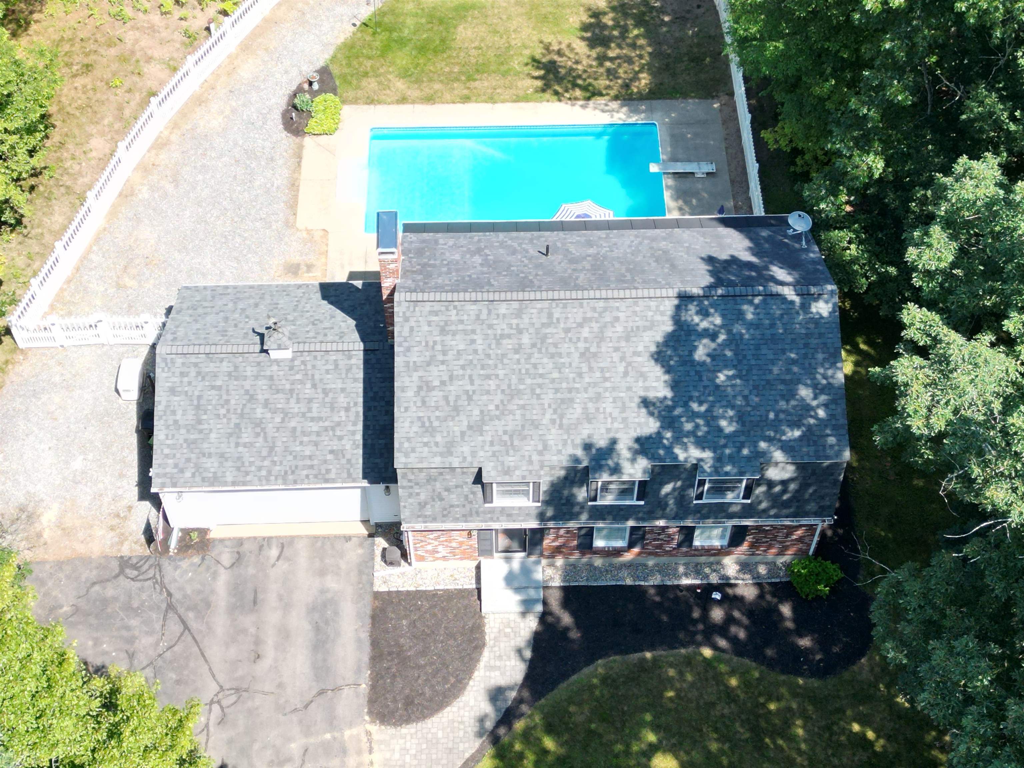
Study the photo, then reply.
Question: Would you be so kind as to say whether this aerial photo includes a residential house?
Yes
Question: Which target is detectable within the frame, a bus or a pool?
pool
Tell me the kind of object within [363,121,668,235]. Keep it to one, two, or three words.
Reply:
swimming pool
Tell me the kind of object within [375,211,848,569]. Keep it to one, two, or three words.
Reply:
house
